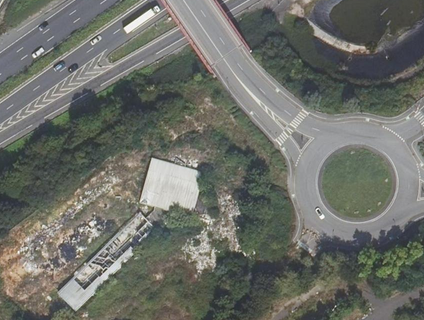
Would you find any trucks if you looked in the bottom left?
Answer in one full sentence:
No, no truck is visible in the bottom left.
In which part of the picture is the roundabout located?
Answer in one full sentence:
The roundabout appears toward the right of the photo.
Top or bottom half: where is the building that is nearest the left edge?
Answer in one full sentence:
The building that is nearest the left edge sits in the bottom half of the picture.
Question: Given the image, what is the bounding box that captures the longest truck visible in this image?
[123,4,162,35]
